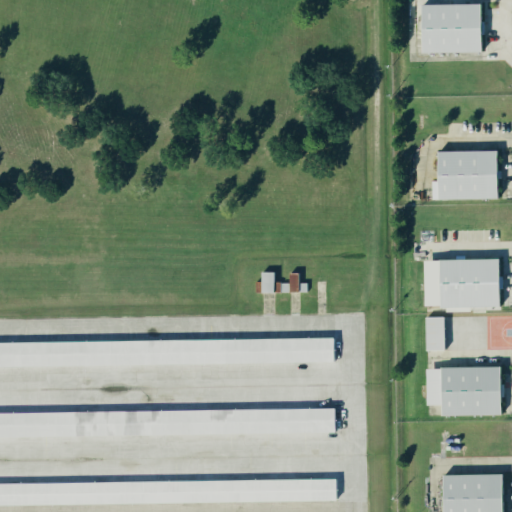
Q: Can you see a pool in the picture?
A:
No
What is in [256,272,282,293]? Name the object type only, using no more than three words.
barn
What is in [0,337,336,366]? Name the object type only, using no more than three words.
building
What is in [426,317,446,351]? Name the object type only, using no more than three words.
shed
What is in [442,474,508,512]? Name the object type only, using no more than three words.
building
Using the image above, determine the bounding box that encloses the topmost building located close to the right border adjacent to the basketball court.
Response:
[424,256,504,312]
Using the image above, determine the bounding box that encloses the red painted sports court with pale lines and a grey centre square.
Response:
[488,316,512,350]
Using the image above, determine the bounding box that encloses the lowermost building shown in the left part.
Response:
[0,478,338,506]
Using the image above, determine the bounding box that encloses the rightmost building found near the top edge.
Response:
[422,4,486,54]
